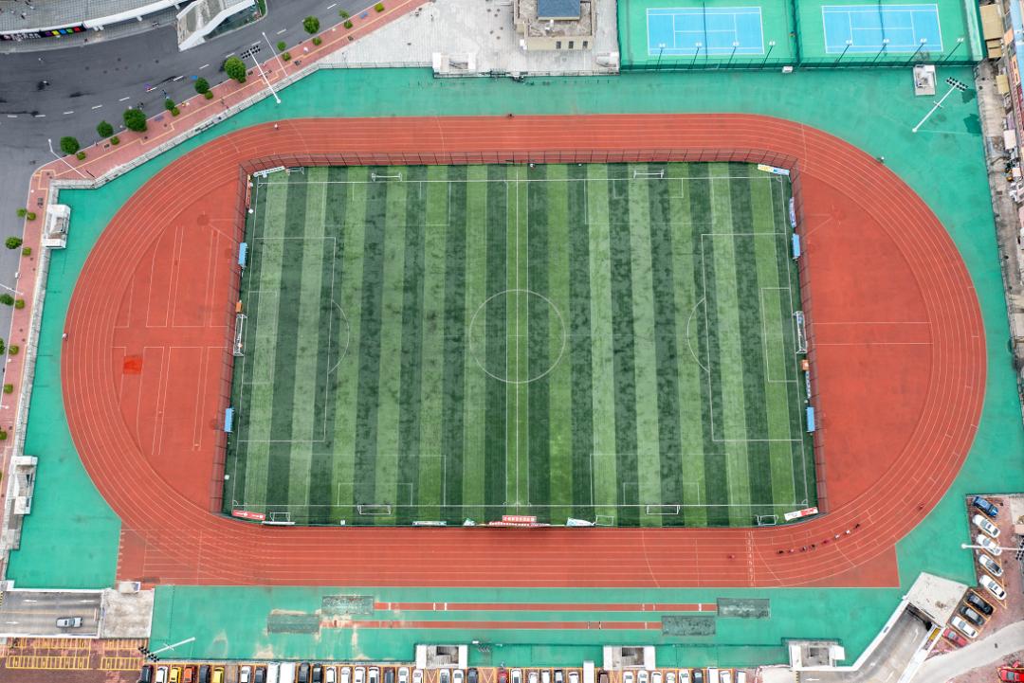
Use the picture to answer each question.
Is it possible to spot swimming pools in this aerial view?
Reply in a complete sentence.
No, this view has no swimming pool in it.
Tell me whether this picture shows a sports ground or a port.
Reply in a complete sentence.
This looks like a sports ground.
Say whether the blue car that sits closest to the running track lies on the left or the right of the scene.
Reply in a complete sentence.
The blue car that sits closest to the running track sits on the right side.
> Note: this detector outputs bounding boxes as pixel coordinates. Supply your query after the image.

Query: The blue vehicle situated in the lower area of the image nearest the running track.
[971,494,999,518]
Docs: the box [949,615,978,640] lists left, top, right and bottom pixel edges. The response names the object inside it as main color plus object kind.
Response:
white car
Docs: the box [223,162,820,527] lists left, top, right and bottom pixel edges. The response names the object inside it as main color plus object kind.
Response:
green soccer field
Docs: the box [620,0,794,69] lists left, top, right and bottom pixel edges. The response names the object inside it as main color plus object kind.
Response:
blue tennis court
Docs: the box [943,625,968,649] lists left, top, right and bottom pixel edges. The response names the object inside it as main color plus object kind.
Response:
red car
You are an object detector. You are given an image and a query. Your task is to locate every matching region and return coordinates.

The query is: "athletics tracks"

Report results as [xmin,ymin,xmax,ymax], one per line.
[64,112,985,589]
